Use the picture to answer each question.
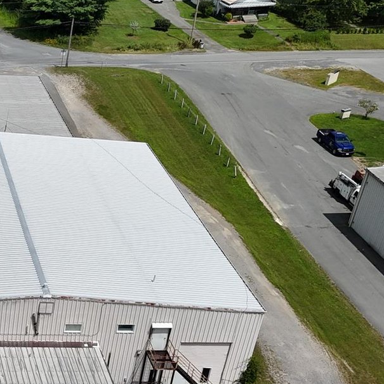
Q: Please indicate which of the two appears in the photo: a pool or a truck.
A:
truck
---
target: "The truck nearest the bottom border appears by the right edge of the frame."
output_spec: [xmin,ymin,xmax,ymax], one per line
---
[326,165,365,207]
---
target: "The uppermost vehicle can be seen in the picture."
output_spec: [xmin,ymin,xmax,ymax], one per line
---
[318,127,357,153]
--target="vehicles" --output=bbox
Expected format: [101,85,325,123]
[318,127,357,153]
[326,165,365,207]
